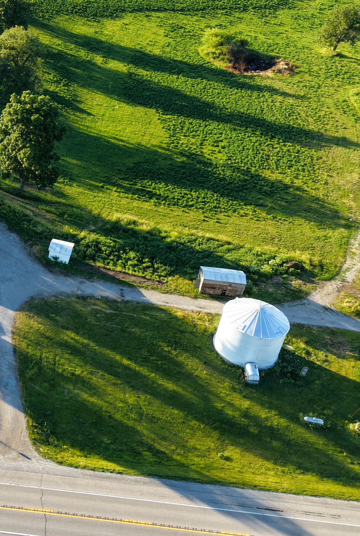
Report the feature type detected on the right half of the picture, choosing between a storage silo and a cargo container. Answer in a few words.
storage silo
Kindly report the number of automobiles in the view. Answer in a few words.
0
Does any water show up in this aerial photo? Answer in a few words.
No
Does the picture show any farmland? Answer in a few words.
Yes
